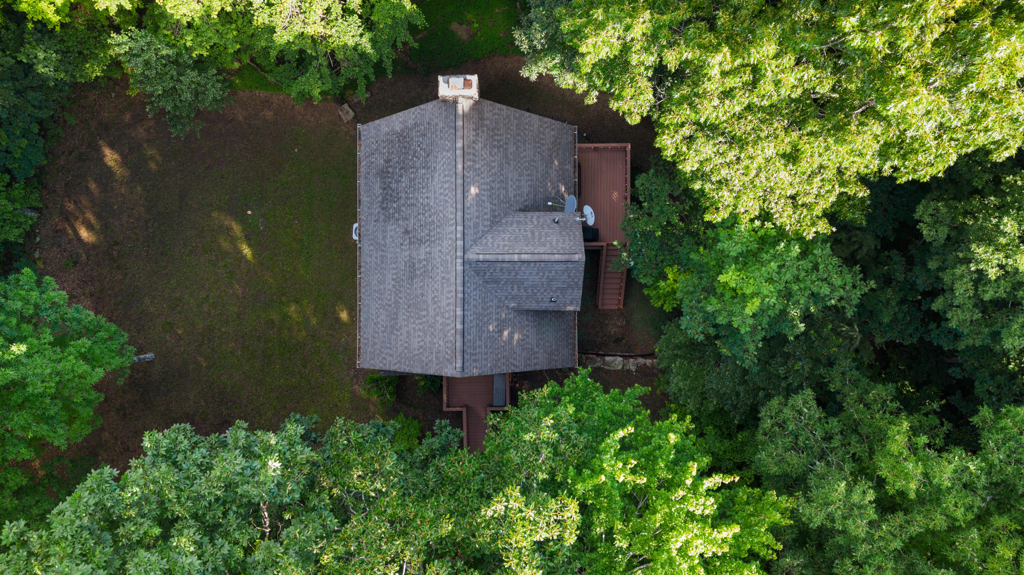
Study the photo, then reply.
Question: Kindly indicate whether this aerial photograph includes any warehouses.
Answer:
No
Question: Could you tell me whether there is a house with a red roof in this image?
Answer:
No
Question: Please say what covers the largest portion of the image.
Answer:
trees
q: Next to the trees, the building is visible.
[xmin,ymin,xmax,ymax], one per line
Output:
[357,74,585,378]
